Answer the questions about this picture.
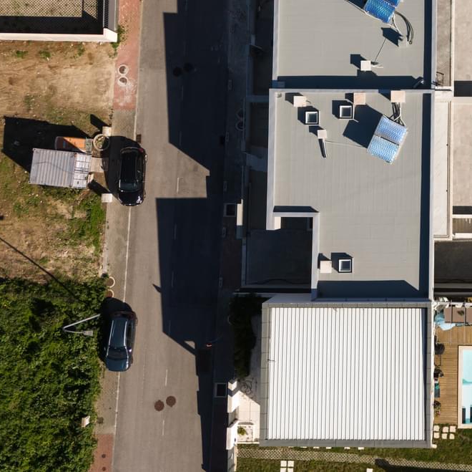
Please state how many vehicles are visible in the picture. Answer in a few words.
2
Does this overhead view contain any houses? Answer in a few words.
Yes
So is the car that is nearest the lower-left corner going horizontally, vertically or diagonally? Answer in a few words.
vertically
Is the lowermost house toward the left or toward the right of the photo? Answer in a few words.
right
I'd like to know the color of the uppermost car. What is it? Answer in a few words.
black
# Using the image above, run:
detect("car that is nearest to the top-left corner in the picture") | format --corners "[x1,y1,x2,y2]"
[114,142,148,206]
